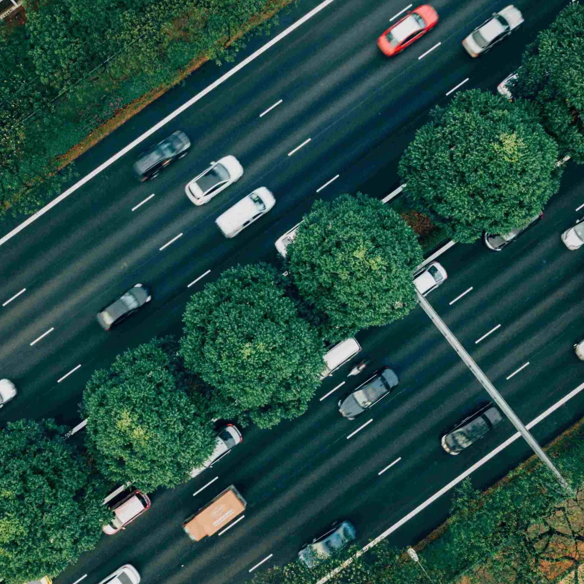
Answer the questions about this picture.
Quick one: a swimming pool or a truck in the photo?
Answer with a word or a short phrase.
truck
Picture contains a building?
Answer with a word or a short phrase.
No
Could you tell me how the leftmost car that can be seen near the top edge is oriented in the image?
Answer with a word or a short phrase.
on a diagonal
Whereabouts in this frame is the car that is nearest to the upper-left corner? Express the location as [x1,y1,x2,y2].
[132,131,193,183]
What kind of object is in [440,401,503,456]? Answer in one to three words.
car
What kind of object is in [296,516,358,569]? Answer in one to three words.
car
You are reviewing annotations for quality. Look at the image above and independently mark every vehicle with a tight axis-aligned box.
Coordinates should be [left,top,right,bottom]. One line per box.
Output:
[377,6,439,59]
[306,337,364,389]
[214,188,276,239]
[132,131,193,183]
[16,569,54,584]
[104,485,156,535]
[185,156,244,206]
[276,208,312,254]
[95,282,155,332]
[338,366,400,419]
[557,216,584,252]
[440,401,503,456]
[0,377,20,408]
[570,334,584,362]
[186,425,246,477]
[396,260,449,311]
[461,7,522,59]
[185,485,245,542]
[95,561,140,584]
[296,516,358,569]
